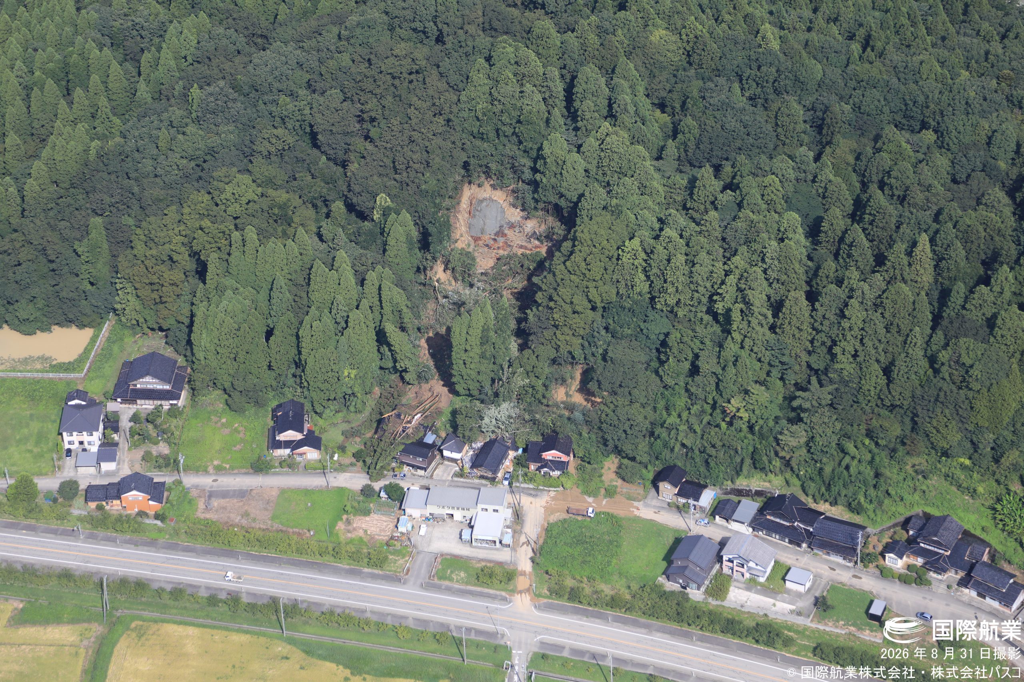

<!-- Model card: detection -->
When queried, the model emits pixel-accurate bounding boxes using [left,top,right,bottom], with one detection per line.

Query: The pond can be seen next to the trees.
[0,320,93,369]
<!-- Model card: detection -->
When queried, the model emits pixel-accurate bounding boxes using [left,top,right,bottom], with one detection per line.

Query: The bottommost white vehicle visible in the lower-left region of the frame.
[225,570,246,583]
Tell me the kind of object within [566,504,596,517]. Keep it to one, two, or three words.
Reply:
vehicle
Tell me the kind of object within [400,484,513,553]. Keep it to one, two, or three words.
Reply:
building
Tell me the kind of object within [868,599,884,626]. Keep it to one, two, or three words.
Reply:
shed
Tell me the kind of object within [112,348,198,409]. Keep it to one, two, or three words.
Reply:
house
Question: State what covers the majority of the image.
trees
